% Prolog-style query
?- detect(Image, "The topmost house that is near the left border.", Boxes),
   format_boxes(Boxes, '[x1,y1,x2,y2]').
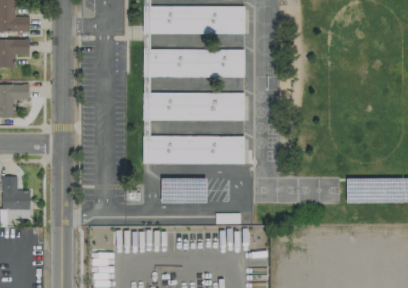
[0,0,30,32]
